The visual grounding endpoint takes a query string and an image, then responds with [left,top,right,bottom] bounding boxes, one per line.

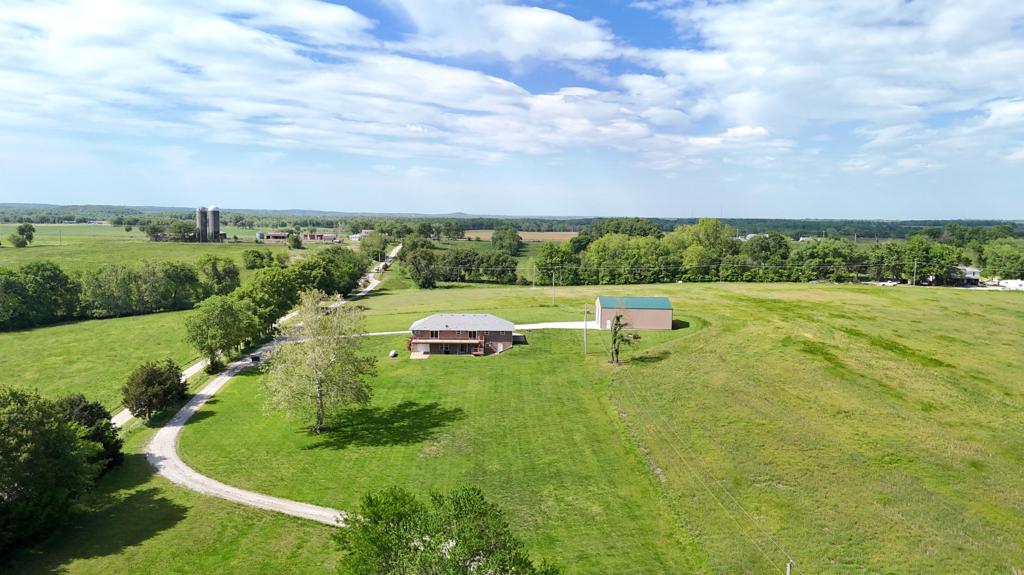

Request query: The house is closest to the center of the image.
[408,312,516,356]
